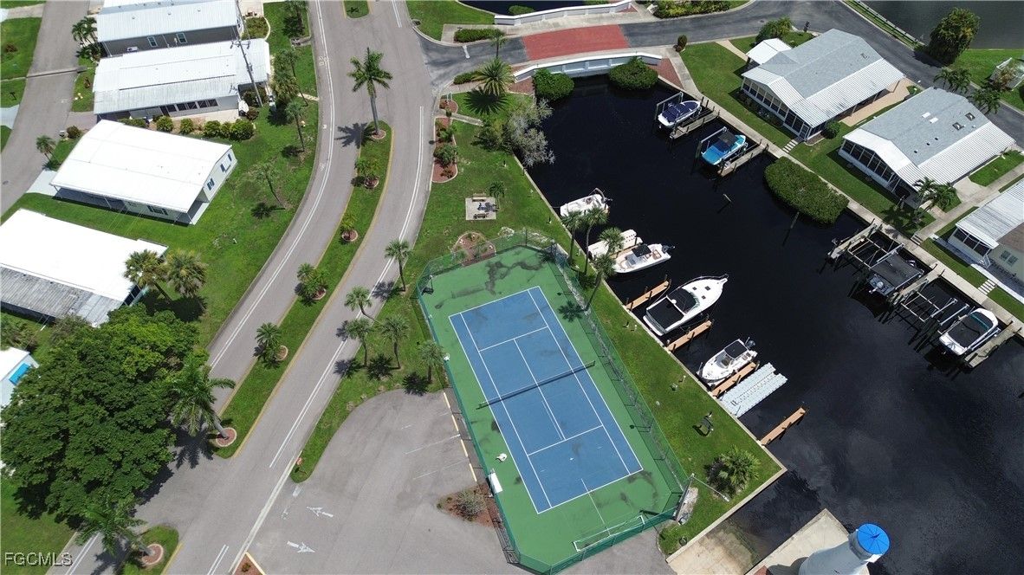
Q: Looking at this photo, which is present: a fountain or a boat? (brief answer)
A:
boat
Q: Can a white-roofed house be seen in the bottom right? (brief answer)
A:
No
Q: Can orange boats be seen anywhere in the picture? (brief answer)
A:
No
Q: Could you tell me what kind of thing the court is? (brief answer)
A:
tennis court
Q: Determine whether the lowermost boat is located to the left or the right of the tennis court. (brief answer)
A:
to its right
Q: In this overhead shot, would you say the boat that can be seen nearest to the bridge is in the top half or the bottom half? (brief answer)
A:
top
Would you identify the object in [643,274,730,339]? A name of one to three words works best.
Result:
boat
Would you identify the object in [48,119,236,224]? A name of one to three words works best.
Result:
house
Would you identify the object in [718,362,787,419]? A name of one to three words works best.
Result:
pier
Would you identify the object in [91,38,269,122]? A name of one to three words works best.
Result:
house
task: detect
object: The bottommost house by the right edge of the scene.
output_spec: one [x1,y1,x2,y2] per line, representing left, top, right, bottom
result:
[948,175,1024,278]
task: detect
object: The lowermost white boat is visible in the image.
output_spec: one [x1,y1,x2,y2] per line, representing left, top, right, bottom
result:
[701,342,759,383]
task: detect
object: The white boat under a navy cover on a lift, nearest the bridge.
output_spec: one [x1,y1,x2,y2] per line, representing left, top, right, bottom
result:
[657,100,700,129]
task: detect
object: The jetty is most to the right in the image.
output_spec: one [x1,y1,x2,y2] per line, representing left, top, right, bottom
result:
[958,319,1024,373]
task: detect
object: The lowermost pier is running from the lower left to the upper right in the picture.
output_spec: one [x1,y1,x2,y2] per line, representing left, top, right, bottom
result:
[758,404,809,445]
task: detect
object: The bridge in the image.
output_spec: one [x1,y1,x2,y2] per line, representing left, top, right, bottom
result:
[494,0,662,79]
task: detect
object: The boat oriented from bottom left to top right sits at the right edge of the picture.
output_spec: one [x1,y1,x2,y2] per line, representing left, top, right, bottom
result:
[936,312,993,358]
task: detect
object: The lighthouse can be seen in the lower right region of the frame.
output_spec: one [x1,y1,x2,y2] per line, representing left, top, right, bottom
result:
[795,523,890,575]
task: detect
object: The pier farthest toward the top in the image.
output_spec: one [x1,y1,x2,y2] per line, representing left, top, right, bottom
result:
[668,108,720,145]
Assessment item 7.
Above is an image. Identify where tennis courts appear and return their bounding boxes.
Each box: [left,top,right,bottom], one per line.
[418,248,684,565]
